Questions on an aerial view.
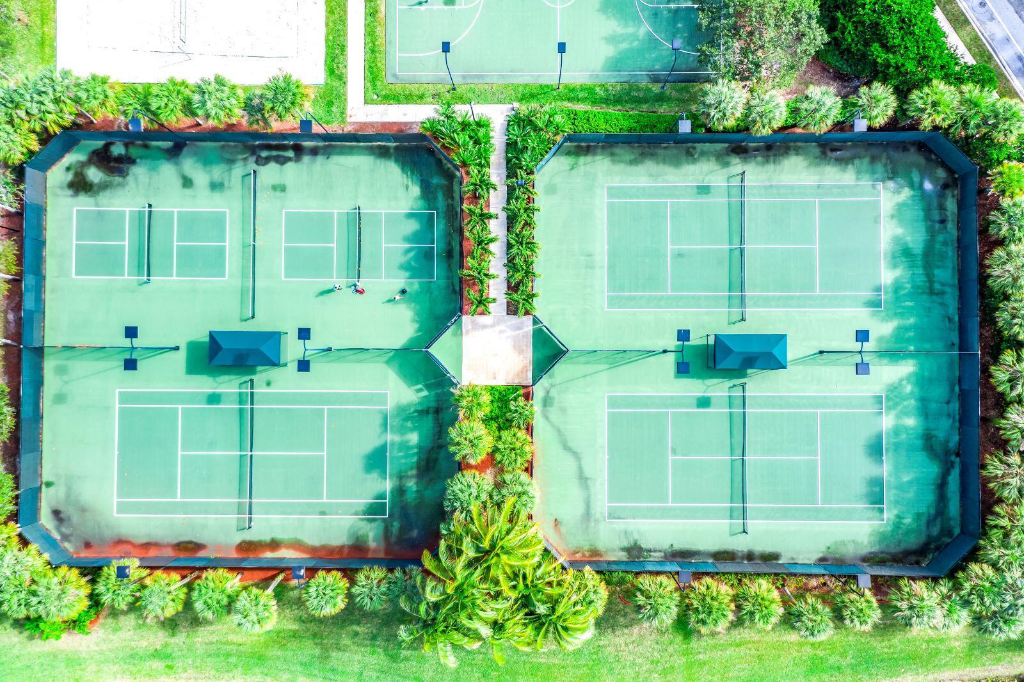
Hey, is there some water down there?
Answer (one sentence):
No, no water is visible.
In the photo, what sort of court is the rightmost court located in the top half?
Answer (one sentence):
From above, the rightmost court located in the top half can be identified as a tennis court.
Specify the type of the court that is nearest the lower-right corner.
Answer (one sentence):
It turns out the court that is nearest the lower-right corner is a tennis court.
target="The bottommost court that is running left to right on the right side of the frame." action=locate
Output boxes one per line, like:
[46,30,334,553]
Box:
[606,394,886,522]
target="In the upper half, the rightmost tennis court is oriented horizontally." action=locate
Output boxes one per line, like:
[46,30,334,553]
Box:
[606,182,883,310]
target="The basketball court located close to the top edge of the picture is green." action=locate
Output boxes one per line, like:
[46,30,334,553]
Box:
[397,0,723,74]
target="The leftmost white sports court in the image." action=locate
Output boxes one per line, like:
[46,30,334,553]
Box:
[56,0,325,84]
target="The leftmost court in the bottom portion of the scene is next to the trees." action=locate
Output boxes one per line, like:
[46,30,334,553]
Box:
[114,389,389,517]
